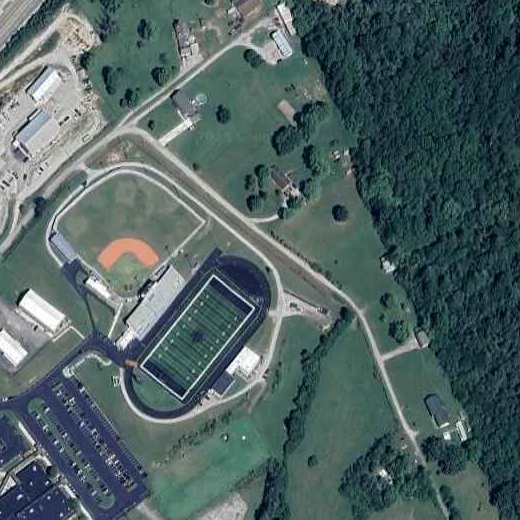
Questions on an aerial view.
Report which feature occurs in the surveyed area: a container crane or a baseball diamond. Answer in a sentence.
The one in the frame is a baseball diamond.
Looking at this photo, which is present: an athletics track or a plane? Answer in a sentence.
The one in the frame is an athletics track.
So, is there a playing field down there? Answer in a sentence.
Yes, a playing field can be made out from above.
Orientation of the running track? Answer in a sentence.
In this picture, the running track is oriented on a diagonal.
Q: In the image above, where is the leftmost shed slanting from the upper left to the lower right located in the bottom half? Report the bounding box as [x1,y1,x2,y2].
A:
[0,329,27,368]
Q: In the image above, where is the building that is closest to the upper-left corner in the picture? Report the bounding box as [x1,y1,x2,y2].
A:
[26,67,61,106]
